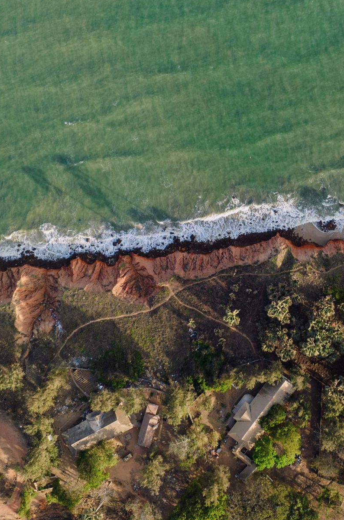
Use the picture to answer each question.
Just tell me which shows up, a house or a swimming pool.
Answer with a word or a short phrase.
house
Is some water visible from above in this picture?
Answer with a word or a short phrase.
Yes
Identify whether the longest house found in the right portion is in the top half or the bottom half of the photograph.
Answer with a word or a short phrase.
bottom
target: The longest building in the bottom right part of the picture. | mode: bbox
[228,373,294,451]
